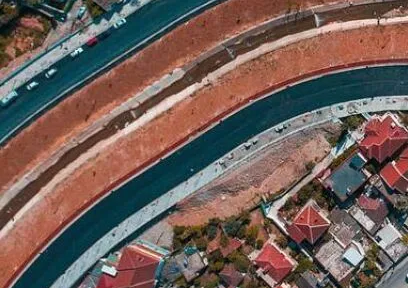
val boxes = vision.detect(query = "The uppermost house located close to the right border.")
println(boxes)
[361,119,408,164]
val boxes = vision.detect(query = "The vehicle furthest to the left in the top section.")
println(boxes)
[1,92,17,104]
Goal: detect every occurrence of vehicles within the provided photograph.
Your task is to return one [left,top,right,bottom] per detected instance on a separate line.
[115,18,127,28]
[27,80,39,89]
[77,6,87,17]
[1,92,17,104]
[44,67,59,78]
[86,36,99,47]
[70,46,84,57]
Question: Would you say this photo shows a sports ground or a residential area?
residential area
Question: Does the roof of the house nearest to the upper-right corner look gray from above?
No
